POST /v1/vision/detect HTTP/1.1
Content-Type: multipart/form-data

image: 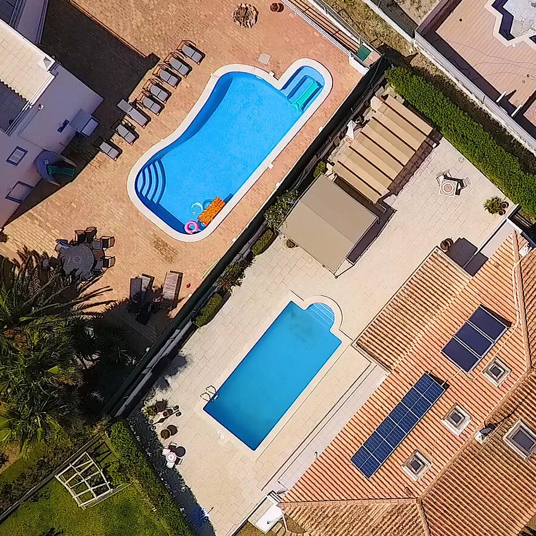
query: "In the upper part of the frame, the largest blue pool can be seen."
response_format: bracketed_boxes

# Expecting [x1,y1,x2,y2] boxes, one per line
[128,58,332,241]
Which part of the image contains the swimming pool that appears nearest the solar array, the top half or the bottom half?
bottom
